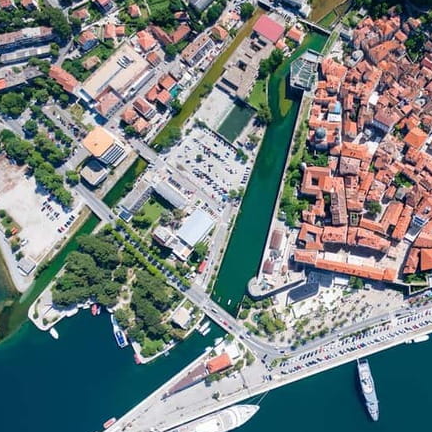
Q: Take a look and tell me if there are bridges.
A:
Yes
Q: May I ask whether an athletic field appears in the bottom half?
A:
No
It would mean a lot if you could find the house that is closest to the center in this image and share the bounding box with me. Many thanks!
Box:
[177,208,216,245]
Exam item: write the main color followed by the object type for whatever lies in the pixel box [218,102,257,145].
green sports field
